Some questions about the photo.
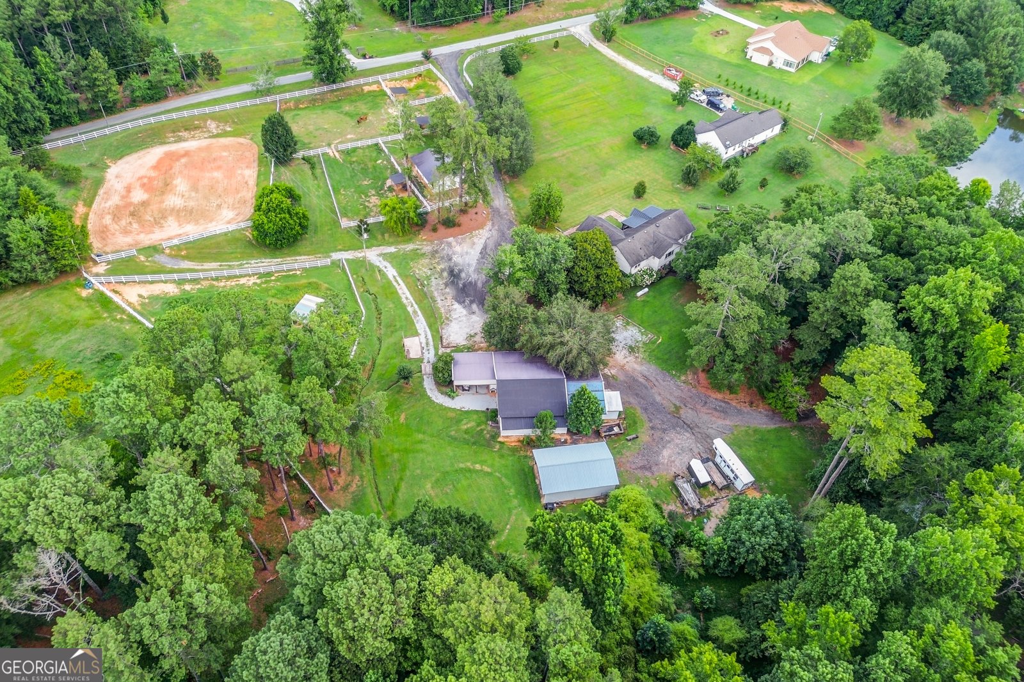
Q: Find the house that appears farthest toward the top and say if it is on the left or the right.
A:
right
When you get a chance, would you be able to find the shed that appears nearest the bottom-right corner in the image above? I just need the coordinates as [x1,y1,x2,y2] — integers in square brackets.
[533,435,619,503]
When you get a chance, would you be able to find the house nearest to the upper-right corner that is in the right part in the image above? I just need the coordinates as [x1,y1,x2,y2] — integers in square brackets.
[751,15,847,72]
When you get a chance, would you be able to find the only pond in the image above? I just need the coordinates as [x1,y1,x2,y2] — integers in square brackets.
[952,111,1024,215]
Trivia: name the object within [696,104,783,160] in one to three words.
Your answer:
house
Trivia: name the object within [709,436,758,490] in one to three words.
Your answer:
trailer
